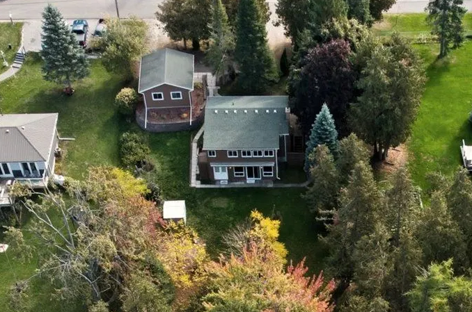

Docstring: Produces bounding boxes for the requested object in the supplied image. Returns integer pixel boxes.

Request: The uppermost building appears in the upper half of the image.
[138,43,197,114]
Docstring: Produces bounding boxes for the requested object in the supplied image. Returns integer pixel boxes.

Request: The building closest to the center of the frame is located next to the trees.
[202,83,297,187]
